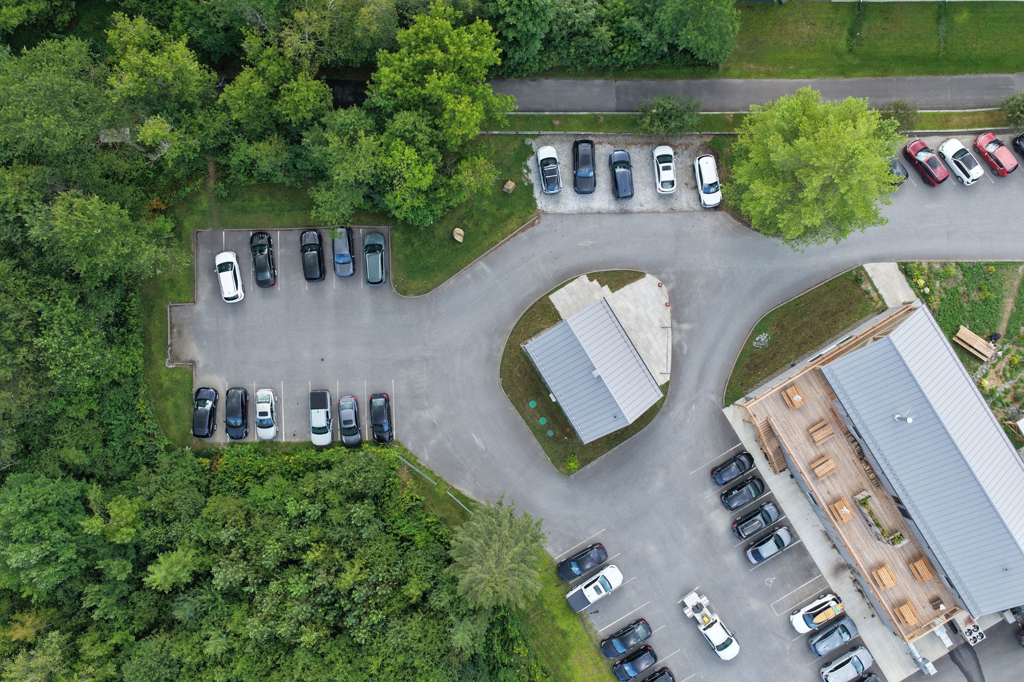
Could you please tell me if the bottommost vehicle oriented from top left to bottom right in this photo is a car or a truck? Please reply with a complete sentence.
Looking closely, the bottommost vehicle oriented from top left to bottom right is a truck.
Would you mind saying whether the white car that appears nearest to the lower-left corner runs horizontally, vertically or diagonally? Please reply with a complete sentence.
From this overhead view, the white car that appears nearest to the lower-left corner appears to run vertically.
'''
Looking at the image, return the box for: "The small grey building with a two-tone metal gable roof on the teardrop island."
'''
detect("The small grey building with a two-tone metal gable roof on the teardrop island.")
[523,296,665,446]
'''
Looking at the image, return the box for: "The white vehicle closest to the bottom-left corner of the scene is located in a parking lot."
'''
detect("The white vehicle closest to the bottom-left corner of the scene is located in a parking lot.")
[252,388,278,439]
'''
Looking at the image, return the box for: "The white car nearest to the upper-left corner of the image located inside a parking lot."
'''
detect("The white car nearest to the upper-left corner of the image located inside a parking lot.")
[214,251,246,304]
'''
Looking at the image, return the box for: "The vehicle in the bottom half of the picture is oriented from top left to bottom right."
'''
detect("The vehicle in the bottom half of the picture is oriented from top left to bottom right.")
[681,589,742,662]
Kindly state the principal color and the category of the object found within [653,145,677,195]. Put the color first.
white car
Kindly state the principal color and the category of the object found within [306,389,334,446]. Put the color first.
white vehicle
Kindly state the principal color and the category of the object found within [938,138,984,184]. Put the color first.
white car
